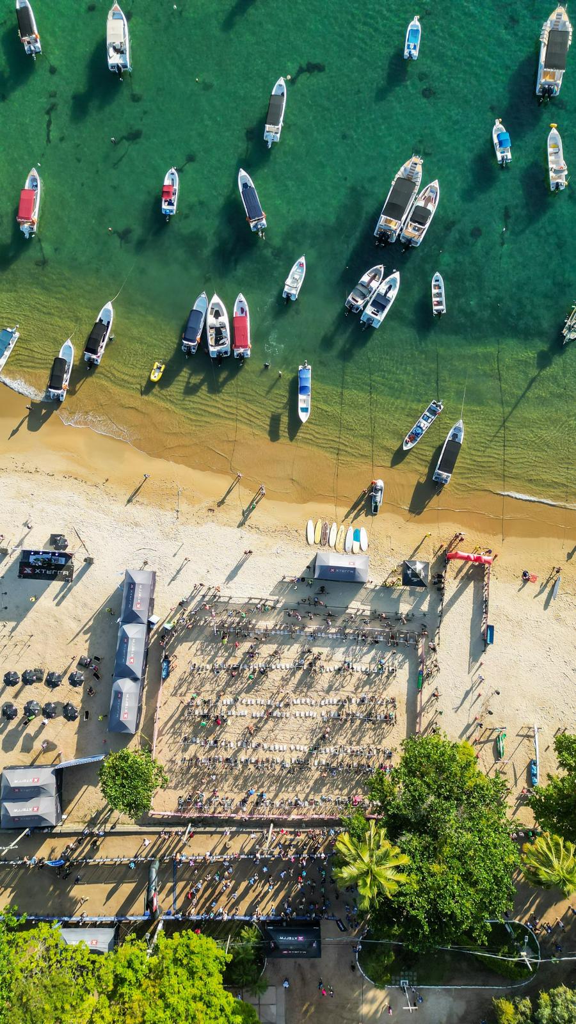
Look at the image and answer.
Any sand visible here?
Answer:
Yes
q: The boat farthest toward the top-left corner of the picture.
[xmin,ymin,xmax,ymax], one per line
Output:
[13,0,42,62]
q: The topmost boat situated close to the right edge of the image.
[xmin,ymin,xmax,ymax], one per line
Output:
[537,0,574,106]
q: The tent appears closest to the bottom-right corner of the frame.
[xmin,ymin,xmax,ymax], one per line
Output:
[267,914,320,957]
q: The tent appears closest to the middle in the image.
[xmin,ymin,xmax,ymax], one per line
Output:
[314,551,368,582]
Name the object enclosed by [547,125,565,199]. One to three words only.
boat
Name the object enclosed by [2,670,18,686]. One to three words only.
umbrella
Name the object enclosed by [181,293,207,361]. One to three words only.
boat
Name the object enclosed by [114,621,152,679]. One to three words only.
tent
